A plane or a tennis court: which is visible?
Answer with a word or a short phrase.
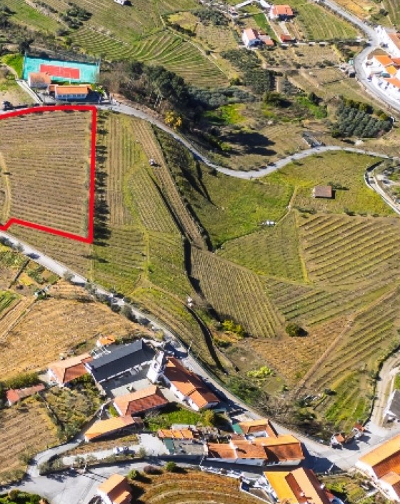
tennis court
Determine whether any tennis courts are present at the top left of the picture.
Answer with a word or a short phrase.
Yes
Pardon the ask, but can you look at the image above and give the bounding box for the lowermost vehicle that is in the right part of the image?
[311,440,328,454]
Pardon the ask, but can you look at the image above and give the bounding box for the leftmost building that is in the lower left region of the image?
[6,380,47,410]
